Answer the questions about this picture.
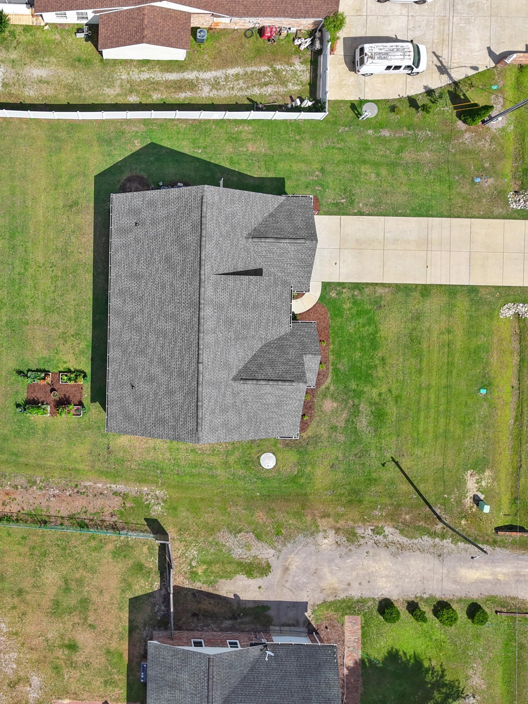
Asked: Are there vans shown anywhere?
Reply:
Yes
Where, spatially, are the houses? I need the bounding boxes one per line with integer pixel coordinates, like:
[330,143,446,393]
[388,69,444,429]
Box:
[104,177,321,443]
[36,0,341,59]
[147,631,344,704]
